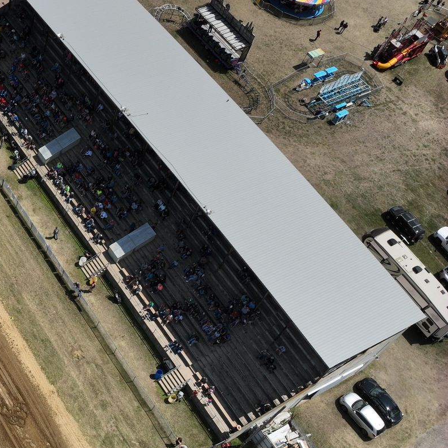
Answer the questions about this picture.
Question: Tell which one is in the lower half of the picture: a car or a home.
car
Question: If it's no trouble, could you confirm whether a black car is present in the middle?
No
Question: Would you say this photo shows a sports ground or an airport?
sports ground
